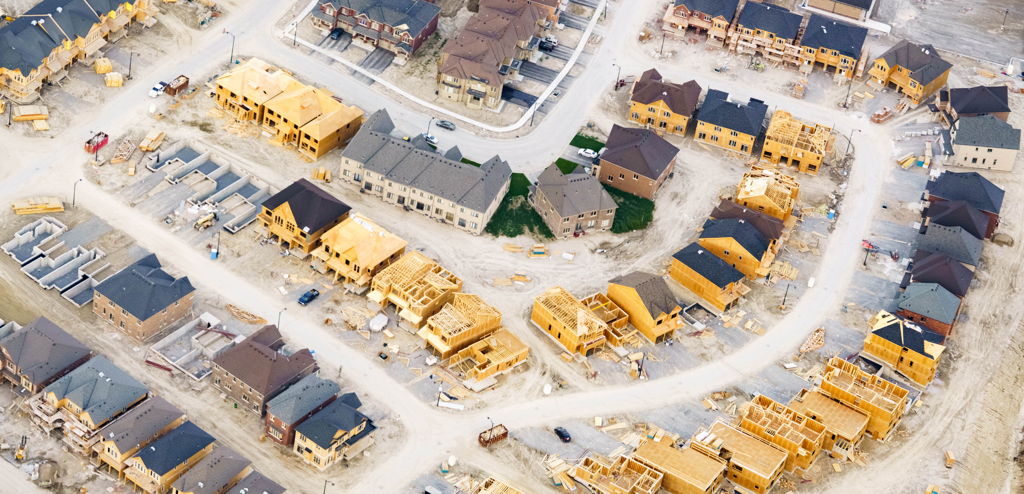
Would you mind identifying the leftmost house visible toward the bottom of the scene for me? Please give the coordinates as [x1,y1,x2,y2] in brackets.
[0,315,90,409]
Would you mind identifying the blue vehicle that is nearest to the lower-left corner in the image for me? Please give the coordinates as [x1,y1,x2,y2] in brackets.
[297,288,320,304]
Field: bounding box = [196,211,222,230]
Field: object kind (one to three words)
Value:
work vehicle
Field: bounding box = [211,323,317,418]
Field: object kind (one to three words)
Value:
house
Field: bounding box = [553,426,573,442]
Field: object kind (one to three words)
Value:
car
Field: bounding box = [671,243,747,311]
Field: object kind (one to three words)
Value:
house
